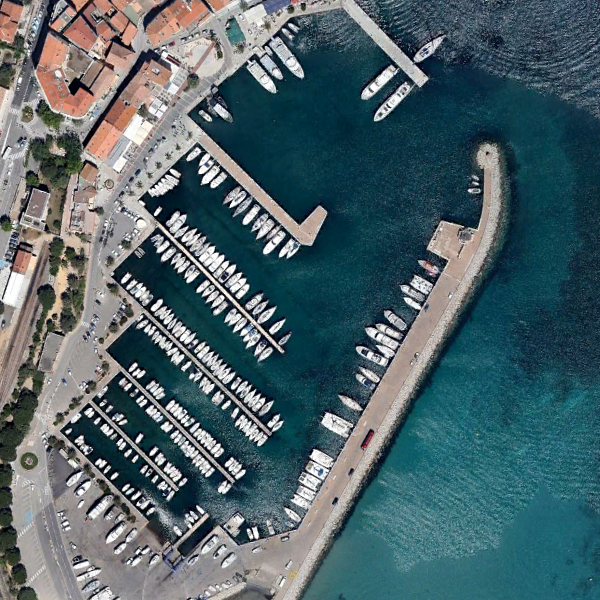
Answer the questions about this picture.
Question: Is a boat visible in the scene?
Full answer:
Yes, the picture does show a boat.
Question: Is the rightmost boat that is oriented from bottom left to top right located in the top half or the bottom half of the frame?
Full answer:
It is in the top half that the rightmost boat that is oriented from bottom left to top right appears.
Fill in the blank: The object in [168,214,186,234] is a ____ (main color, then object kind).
white boat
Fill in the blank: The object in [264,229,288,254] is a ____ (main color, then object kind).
white boat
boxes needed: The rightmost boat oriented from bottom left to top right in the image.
[412,35,447,64]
